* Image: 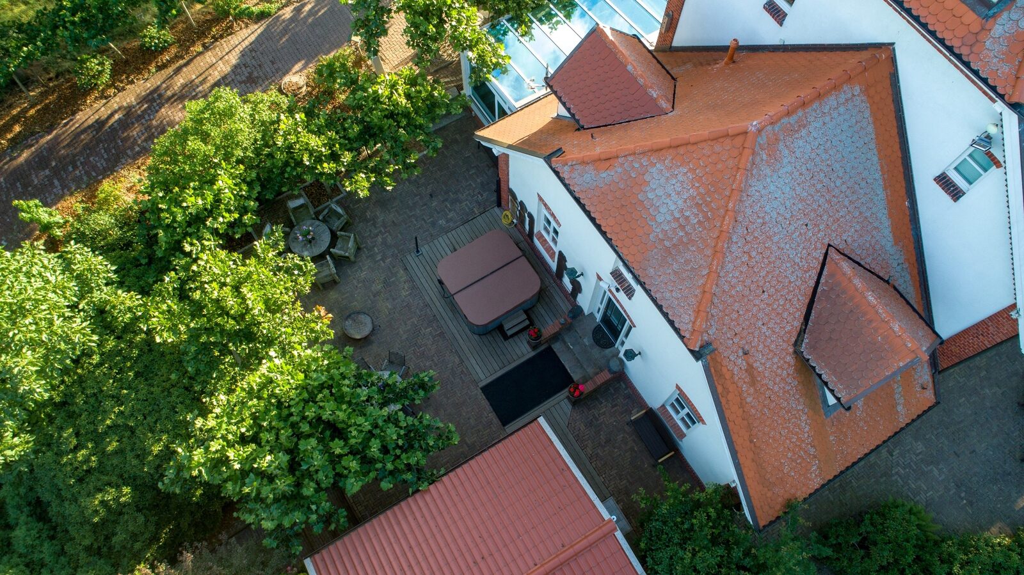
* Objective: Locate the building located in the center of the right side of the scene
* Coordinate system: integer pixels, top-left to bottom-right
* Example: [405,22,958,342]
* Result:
[475,0,1024,534]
